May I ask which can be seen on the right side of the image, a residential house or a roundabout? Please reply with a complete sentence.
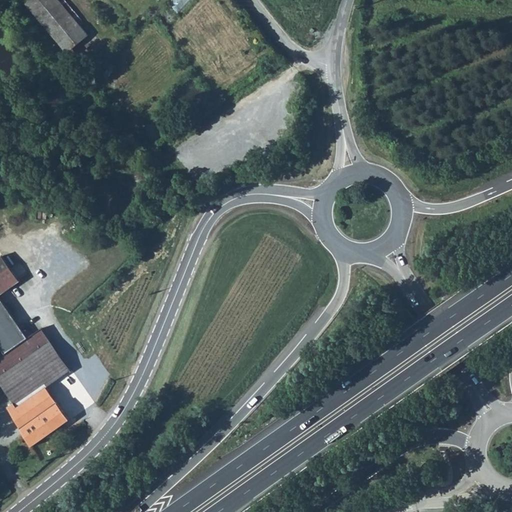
What appears on the right side of the image is a roundabout.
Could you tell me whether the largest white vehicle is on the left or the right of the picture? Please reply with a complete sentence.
It is on the right.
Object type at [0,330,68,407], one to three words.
barn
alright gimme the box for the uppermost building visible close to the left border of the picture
[24,0,86,50]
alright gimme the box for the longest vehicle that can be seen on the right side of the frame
[322,427,347,446]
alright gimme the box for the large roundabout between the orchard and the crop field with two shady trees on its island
[279,148,442,281]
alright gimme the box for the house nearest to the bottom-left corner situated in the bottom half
[3,387,67,448]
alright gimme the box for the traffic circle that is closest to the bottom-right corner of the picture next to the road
[466,400,512,495]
